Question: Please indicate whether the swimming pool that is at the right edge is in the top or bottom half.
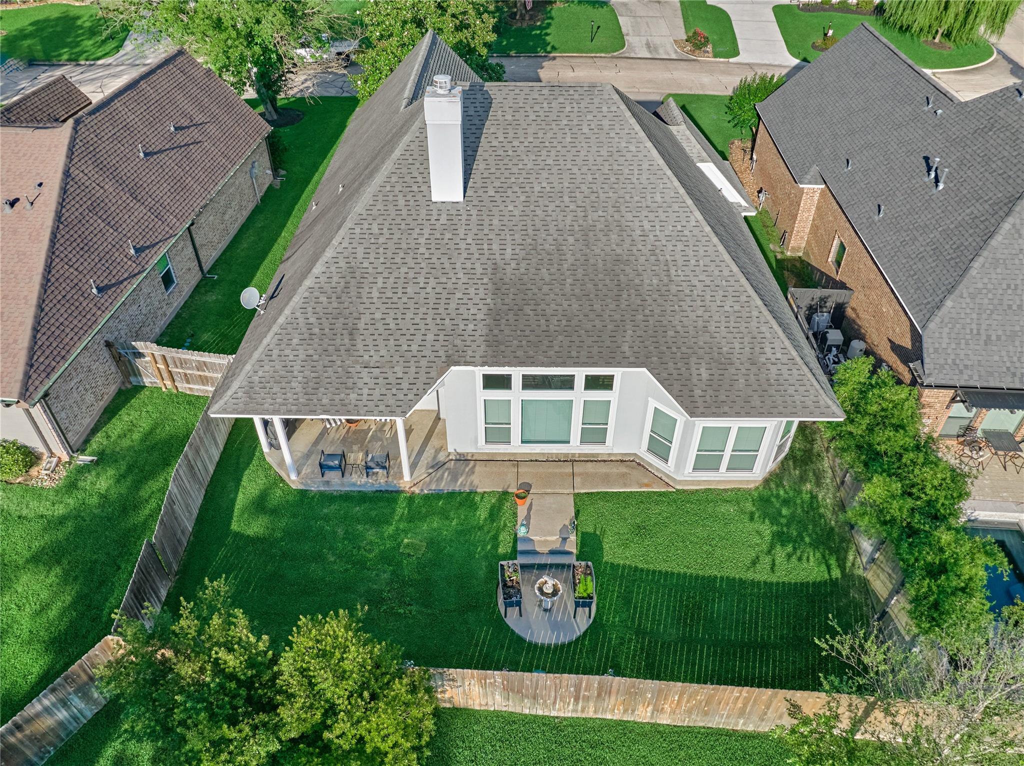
bottom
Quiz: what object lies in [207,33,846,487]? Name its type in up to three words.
house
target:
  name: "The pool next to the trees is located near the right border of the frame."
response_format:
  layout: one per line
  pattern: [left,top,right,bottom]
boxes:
[975,518,1024,651]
